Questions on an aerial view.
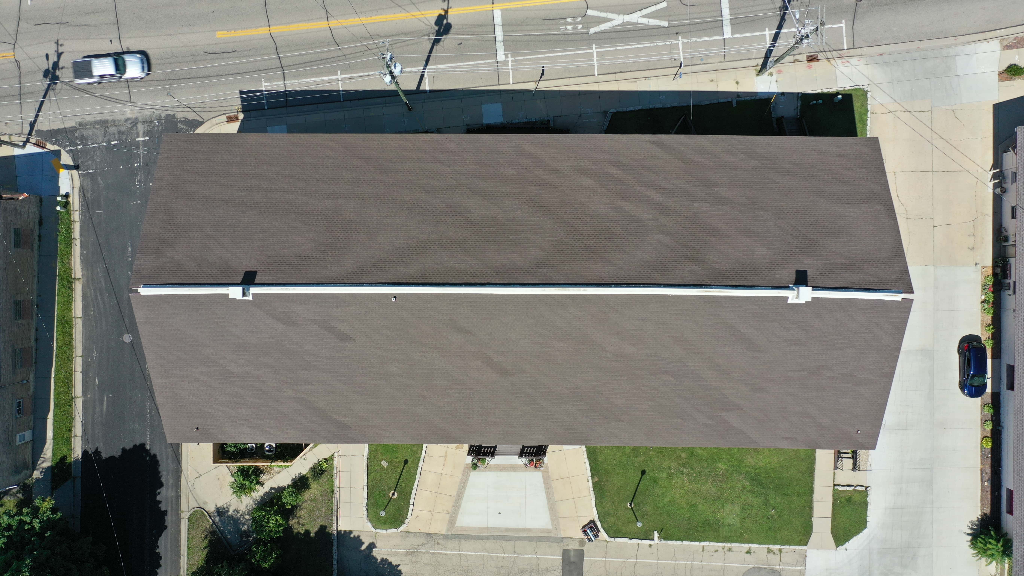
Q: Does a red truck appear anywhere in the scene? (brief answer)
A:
No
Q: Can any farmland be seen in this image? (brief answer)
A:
No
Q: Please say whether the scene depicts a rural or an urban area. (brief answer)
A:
urban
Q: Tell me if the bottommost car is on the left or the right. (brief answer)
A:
right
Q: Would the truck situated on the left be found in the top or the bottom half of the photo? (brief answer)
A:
top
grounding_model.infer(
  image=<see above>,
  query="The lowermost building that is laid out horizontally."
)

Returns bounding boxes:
[129,133,914,450]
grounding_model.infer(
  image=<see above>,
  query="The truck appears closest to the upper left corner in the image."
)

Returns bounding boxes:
[71,49,151,86]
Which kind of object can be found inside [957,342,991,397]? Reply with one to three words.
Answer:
car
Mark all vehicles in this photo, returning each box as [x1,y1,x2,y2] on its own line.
[957,342,991,397]
[71,49,151,86]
